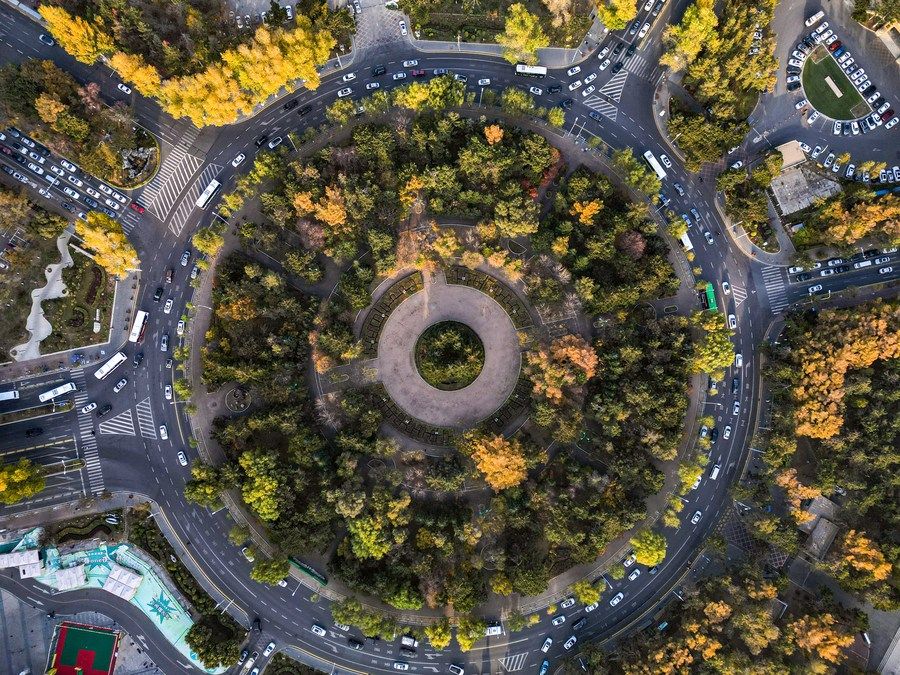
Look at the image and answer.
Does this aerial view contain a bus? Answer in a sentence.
Yes, this view includes a bus.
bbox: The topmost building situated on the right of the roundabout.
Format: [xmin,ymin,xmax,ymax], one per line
[867,22,900,79]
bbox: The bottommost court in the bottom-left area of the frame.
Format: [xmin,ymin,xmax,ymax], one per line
[51,622,120,675]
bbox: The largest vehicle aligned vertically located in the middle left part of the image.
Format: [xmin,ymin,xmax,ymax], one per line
[133,308,149,344]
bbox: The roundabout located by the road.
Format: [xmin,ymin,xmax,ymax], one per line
[125,52,757,675]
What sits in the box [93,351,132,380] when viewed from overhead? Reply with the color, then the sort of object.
white bus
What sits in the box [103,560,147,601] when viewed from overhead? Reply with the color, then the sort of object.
white tent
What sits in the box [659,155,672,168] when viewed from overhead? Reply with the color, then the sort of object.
white vehicle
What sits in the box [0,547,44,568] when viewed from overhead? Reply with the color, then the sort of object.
white tent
